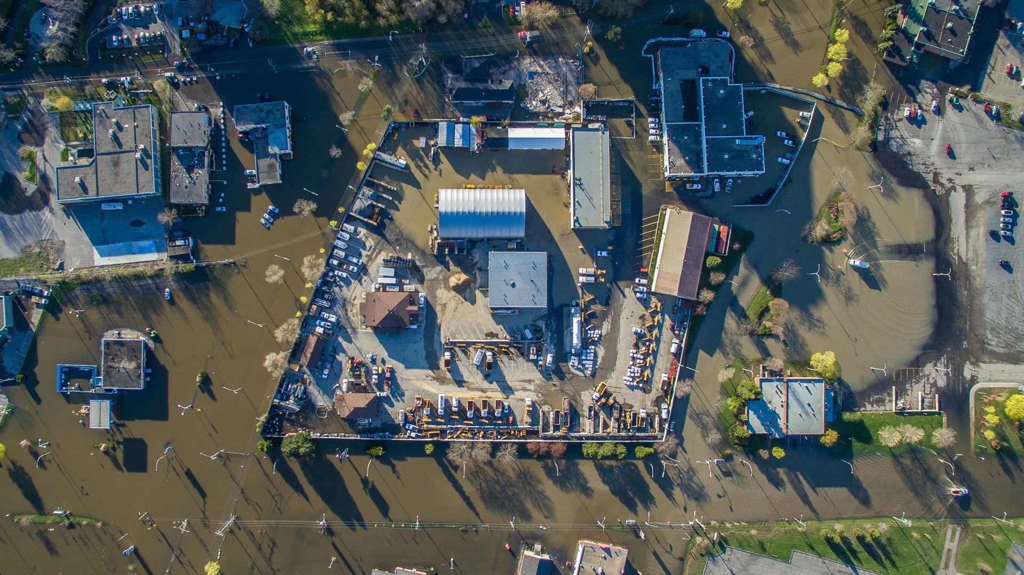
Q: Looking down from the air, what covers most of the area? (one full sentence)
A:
What you mostly see from above here is water.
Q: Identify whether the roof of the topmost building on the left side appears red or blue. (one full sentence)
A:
The roof of the topmost building on the left side looks blue in the image.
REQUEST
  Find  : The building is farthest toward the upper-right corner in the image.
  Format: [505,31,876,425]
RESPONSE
[885,0,980,66]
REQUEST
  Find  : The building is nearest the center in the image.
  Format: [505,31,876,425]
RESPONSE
[489,252,547,308]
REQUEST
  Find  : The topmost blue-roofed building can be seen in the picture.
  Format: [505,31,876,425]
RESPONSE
[213,0,248,31]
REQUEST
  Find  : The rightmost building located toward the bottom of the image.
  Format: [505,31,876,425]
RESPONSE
[743,376,833,436]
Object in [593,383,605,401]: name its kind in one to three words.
vehicle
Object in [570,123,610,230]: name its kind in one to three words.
building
